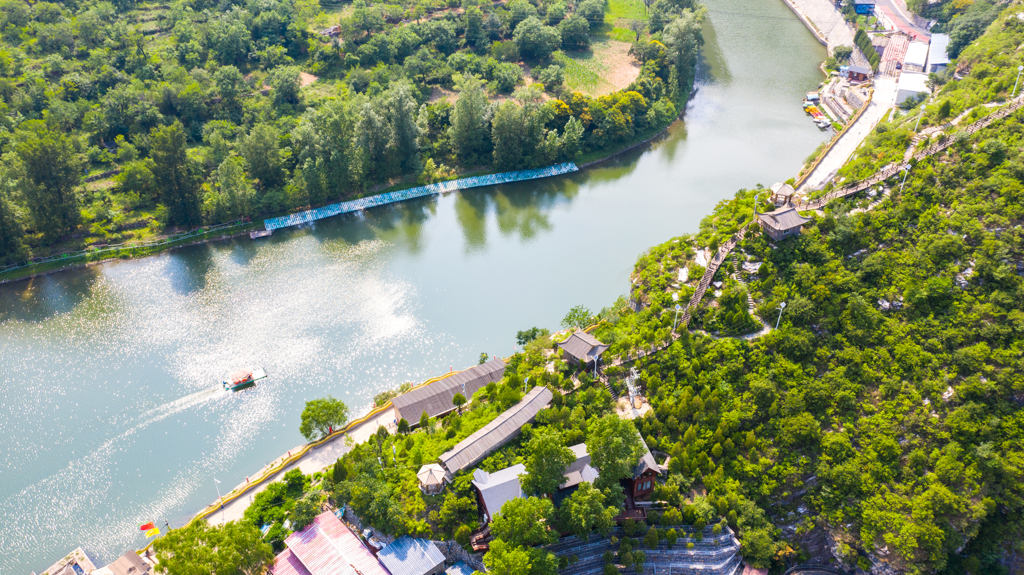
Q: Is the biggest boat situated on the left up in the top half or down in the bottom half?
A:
bottom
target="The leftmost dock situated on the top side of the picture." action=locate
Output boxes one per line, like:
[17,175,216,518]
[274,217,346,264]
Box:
[264,162,579,230]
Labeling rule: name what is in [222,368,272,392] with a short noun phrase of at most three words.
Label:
boat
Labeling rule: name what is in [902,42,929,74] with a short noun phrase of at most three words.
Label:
building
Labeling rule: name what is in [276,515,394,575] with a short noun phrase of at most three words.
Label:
shed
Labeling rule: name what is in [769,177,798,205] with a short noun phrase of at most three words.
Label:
building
